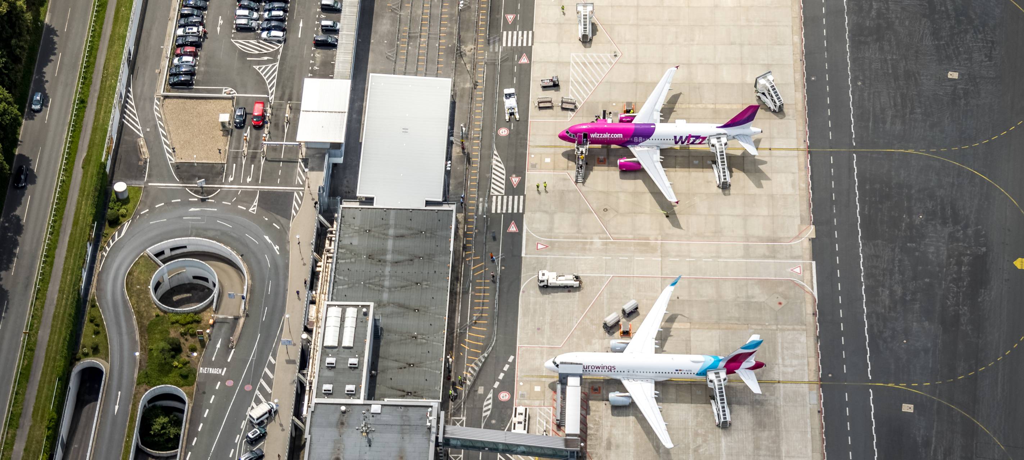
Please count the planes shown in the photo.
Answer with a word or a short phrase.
2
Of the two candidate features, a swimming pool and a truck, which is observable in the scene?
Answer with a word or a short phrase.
truck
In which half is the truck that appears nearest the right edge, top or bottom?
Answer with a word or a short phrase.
top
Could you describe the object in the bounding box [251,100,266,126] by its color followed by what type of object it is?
red vehicle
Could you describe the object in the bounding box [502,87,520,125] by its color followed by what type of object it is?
white work vehicle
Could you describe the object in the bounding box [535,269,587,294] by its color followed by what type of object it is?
white truck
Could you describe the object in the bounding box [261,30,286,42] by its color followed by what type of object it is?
white vehicle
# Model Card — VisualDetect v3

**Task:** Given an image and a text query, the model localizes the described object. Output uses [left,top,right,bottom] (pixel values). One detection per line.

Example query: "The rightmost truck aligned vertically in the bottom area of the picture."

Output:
[705,366,734,427]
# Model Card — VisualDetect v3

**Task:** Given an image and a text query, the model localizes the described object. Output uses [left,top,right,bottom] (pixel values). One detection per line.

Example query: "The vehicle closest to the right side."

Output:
[751,67,786,114]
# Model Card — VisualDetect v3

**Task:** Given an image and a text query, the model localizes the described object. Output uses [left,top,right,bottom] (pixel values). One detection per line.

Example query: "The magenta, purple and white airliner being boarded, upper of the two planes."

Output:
[559,61,763,202]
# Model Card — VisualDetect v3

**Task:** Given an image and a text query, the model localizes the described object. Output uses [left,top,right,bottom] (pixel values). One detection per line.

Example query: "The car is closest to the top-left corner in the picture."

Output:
[30,91,45,112]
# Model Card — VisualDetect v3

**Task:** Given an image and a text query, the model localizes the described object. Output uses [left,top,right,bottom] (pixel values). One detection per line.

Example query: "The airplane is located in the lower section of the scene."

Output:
[545,273,766,448]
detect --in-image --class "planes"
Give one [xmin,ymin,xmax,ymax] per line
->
[559,61,763,202]
[545,273,766,448]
